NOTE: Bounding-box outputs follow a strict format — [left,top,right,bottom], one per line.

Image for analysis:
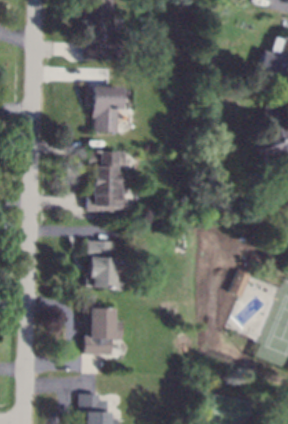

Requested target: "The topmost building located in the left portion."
[93,85,129,134]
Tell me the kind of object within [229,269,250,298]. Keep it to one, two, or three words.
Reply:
building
